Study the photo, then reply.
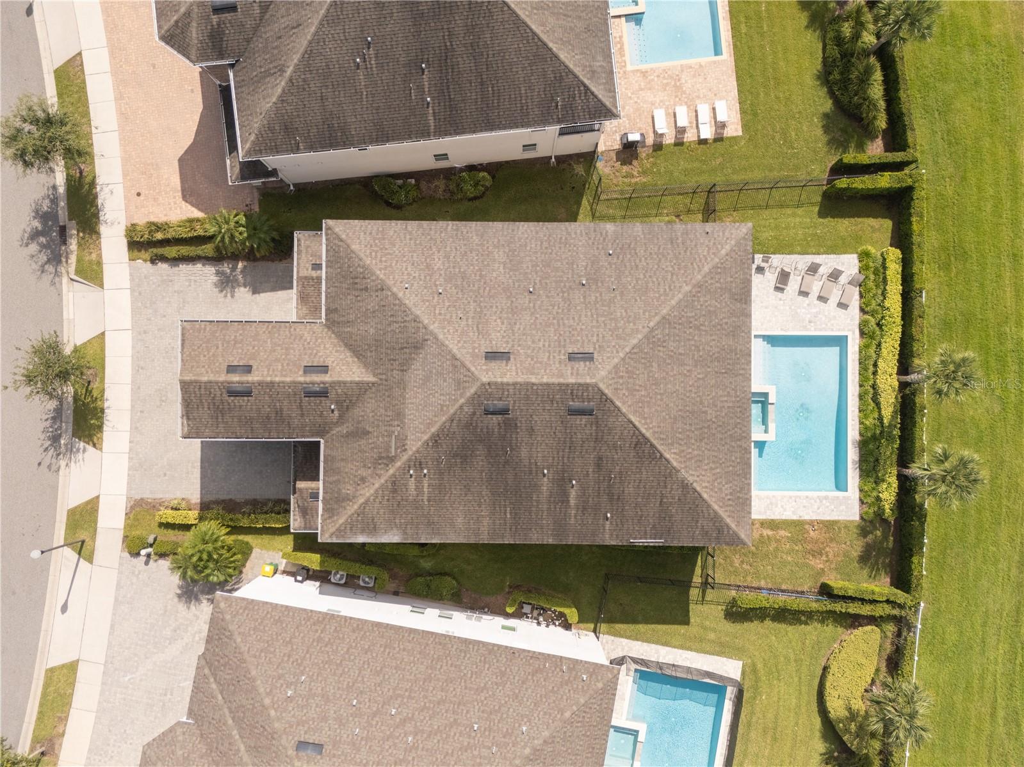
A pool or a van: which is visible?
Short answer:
pool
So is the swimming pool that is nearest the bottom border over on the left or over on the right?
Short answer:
right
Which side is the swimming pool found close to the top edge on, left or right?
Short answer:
right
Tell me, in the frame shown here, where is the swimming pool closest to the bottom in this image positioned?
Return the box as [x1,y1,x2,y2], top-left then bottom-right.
[602,665,731,767]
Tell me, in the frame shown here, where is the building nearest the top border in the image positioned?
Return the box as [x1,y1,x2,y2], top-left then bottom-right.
[149,0,623,191]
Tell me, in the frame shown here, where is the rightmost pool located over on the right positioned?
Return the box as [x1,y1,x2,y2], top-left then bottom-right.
[752,332,851,495]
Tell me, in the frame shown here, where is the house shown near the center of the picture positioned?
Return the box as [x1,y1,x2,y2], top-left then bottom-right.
[177,219,754,547]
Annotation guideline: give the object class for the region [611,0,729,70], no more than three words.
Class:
swimming pool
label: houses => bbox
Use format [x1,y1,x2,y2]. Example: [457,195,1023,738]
[177,219,754,547]
[138,575,621,767]
[149,0,623,191]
